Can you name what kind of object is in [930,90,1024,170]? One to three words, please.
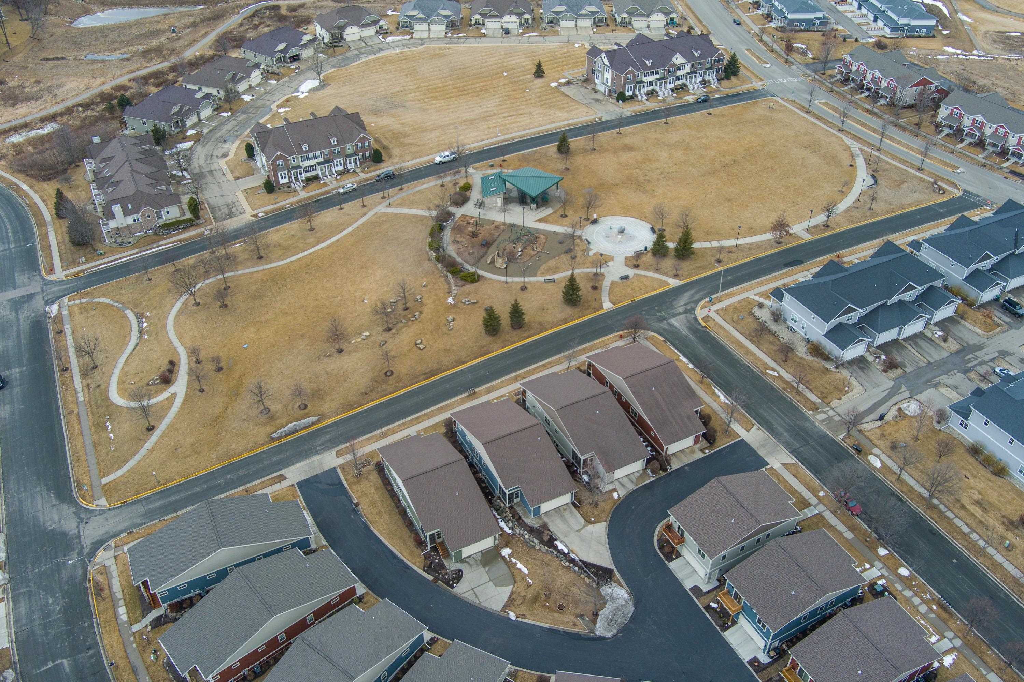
house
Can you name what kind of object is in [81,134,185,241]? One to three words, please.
building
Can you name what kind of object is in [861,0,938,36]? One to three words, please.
house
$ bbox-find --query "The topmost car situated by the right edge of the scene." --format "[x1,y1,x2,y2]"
[1004,295,1024,316]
